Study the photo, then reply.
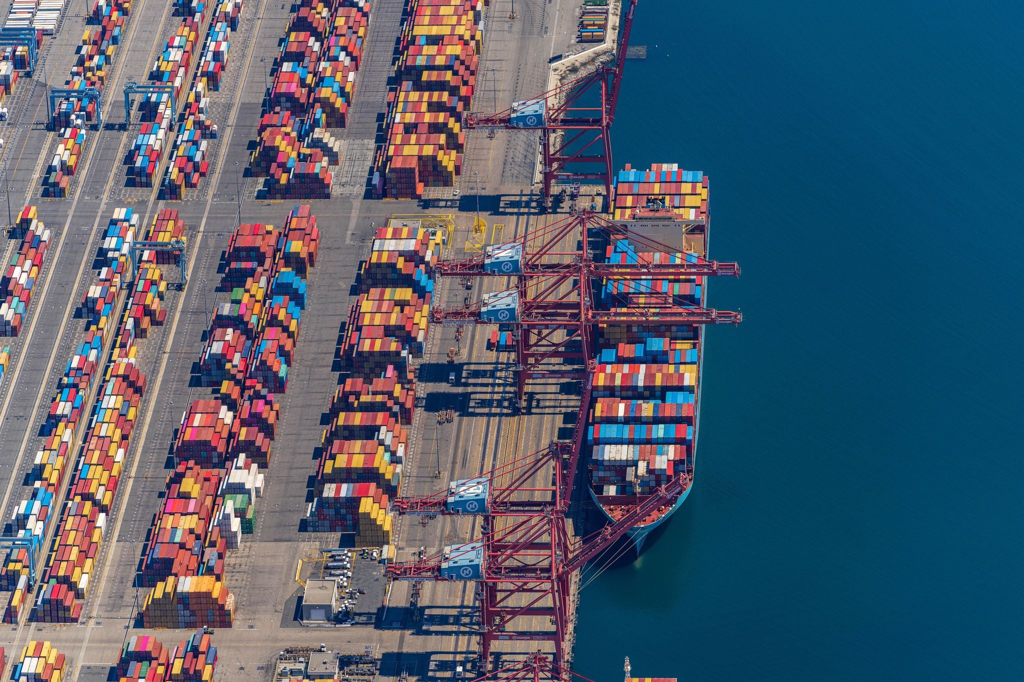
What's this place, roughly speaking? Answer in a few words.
port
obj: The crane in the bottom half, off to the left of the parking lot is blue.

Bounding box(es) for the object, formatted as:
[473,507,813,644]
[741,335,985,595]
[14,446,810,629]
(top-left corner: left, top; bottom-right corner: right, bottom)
[0,533,36,593]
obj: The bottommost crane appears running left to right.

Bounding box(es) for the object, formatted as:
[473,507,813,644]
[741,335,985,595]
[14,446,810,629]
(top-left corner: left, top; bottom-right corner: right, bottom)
[466,648,619,682]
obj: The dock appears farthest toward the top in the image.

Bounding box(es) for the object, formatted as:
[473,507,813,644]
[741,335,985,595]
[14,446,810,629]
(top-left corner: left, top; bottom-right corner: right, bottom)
[615,46,647,63]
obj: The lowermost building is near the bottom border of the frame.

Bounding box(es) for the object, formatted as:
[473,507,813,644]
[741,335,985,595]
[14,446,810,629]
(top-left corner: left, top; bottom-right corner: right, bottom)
[304,652,342,682]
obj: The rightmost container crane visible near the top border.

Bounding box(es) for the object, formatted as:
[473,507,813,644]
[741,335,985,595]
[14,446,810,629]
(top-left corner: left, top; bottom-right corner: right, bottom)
[462,0,635,215]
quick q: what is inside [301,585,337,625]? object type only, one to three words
building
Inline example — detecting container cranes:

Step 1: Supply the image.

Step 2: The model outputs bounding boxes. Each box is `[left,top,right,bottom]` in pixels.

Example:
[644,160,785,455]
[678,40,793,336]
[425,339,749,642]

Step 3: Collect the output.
[121,82,176,132]
[462,0,635,215]
[437,205,747,366]
[127,235,187,289]
[428,252,745,415]
[47,82,102,132]
[383,464,684,681]
[395,359,599,613]
[0,533,36,593]
[466,648,619,682]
